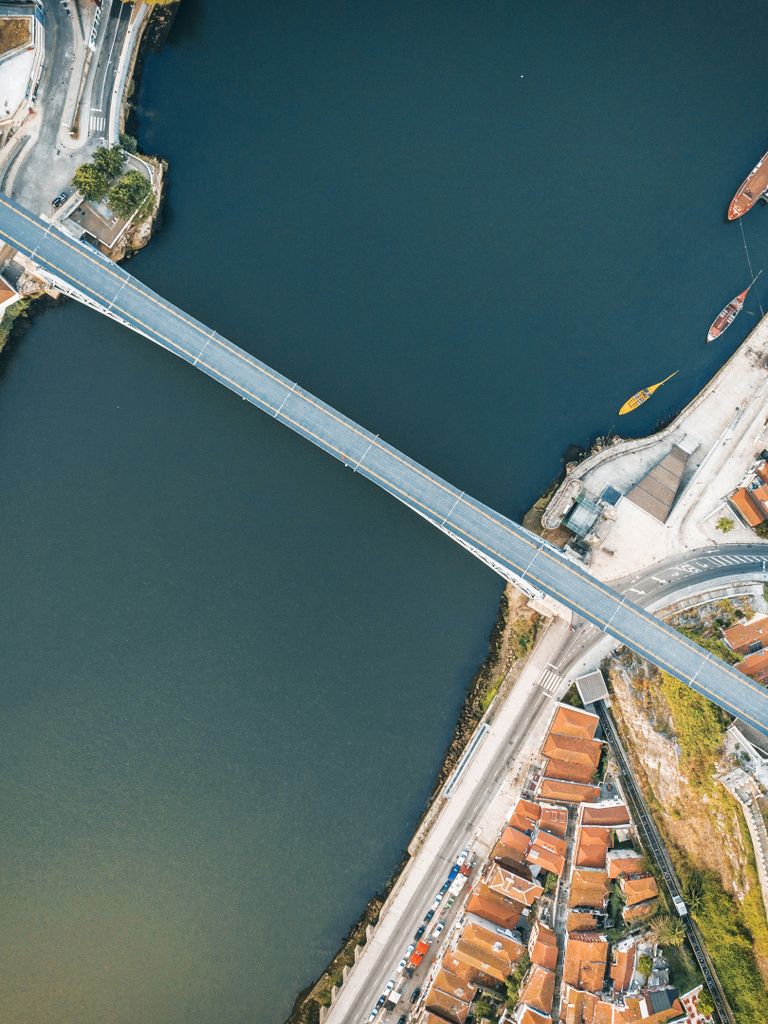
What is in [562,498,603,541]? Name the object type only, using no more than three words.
building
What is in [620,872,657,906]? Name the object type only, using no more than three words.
house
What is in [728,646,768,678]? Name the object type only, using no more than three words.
house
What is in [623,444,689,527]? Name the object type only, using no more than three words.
building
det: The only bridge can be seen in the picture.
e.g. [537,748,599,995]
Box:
[0,192,768,737]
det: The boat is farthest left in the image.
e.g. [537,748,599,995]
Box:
[619,370,679,415]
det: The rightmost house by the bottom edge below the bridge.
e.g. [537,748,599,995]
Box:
[675,979,708,1024]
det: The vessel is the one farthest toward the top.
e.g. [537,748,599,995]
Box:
[725,144,768,222]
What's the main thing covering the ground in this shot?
water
